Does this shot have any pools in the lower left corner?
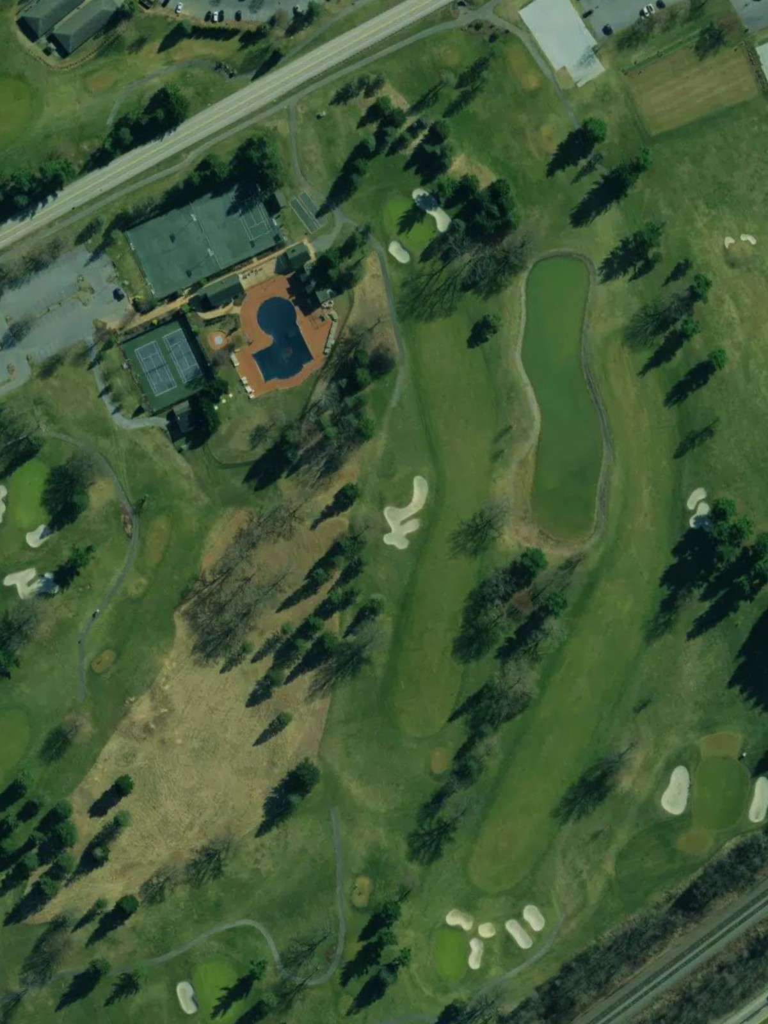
No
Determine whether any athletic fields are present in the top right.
Yes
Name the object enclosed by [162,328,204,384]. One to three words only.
tennis court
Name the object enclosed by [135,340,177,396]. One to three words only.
tennis court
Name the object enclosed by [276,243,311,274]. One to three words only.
building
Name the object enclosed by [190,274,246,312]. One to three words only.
building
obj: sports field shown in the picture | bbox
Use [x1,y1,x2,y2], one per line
[627,46,760,138]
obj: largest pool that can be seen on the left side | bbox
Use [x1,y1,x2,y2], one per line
[235,272,337,398]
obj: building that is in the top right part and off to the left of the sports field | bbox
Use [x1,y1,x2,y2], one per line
[519,0,606,87]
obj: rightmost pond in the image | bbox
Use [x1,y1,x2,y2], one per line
[522,255,605,543]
